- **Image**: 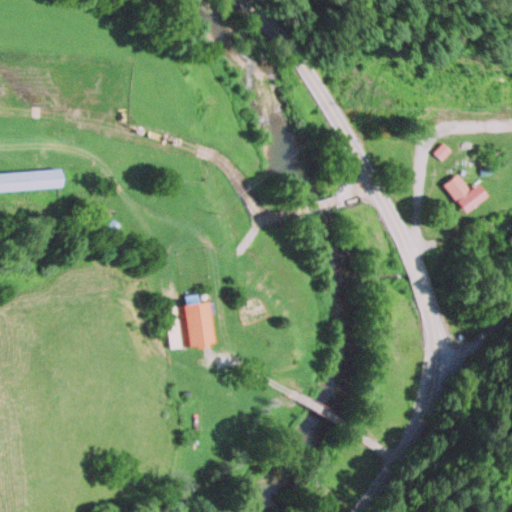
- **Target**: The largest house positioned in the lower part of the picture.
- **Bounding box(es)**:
[168,293,216,350]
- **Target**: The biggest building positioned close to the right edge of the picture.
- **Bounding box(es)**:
[444,174,489,214]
